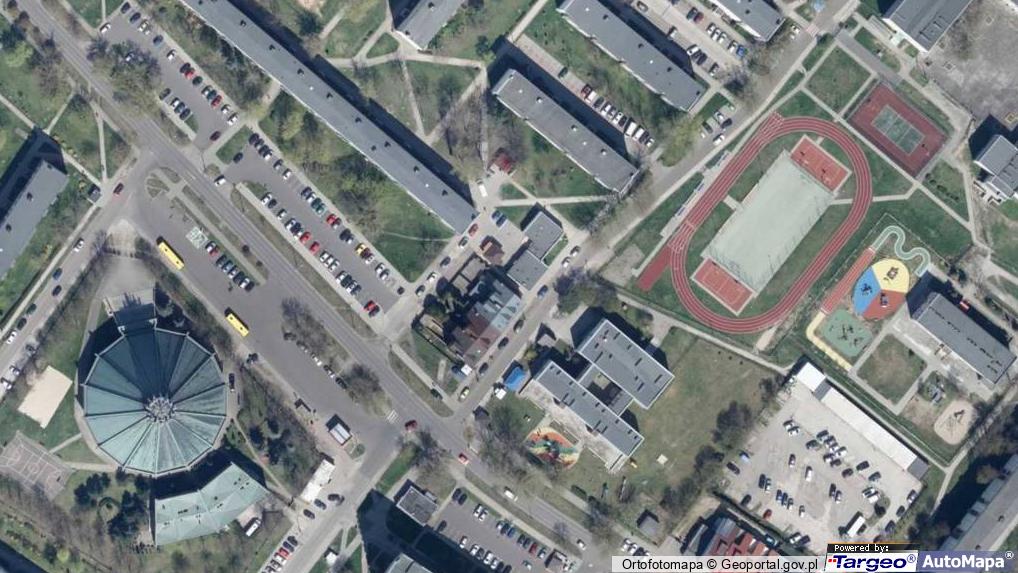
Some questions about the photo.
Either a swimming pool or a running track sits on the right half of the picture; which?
running track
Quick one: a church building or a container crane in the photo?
church building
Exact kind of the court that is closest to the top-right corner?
tennis court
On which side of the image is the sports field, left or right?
right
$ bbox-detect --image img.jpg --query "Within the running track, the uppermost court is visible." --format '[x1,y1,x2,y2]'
[787,134,853,194]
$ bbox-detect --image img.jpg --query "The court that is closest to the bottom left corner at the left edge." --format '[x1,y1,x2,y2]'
[0,433,72,500]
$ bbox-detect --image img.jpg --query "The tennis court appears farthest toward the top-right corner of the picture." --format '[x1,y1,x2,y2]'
[848,82,948,178]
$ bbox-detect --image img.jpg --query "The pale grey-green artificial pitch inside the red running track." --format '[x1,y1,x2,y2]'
[703,150,833,297]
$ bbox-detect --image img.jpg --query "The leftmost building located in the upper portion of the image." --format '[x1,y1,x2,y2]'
[0,159,72,284]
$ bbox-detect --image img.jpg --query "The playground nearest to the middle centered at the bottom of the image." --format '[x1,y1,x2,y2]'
[523,424,583,473]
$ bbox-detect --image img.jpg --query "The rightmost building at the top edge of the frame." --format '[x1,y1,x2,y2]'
[886,0,969,53]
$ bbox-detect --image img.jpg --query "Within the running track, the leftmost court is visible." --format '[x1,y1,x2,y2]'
[690,255,756,315]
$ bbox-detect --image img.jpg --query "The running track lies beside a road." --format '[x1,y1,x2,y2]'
[636,110,873,334]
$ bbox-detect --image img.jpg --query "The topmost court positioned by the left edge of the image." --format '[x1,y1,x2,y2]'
[18,366,73,429]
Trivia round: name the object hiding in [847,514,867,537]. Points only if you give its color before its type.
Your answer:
white vehicle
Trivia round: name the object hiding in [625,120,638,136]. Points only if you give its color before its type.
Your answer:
white vehicle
